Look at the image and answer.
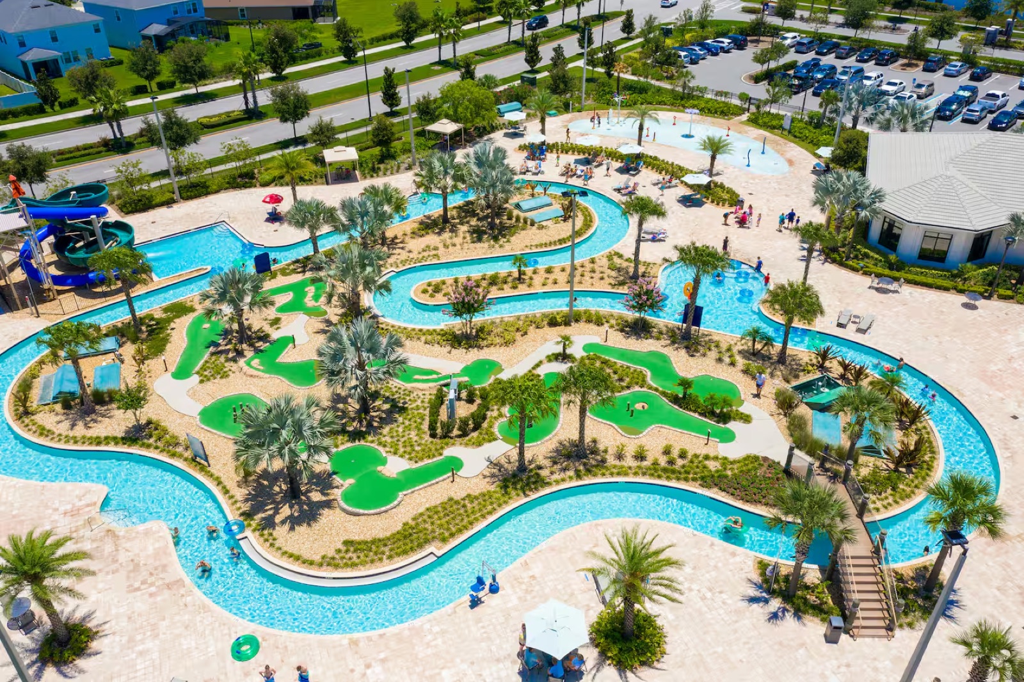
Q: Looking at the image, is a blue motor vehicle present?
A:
Yes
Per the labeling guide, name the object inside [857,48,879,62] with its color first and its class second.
blue car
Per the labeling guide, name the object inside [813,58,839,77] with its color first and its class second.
blue car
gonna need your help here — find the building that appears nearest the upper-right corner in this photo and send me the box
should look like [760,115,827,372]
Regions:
[983,23,1006,44]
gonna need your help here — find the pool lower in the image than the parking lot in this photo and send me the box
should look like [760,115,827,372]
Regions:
[0,181,1000,635]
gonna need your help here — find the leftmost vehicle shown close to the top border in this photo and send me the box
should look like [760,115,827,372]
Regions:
[528,13,547,26]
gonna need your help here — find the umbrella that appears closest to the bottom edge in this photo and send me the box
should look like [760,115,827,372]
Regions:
[523,605,590,663]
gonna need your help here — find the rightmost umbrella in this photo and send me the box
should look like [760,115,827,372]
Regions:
[817,150,843,171]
